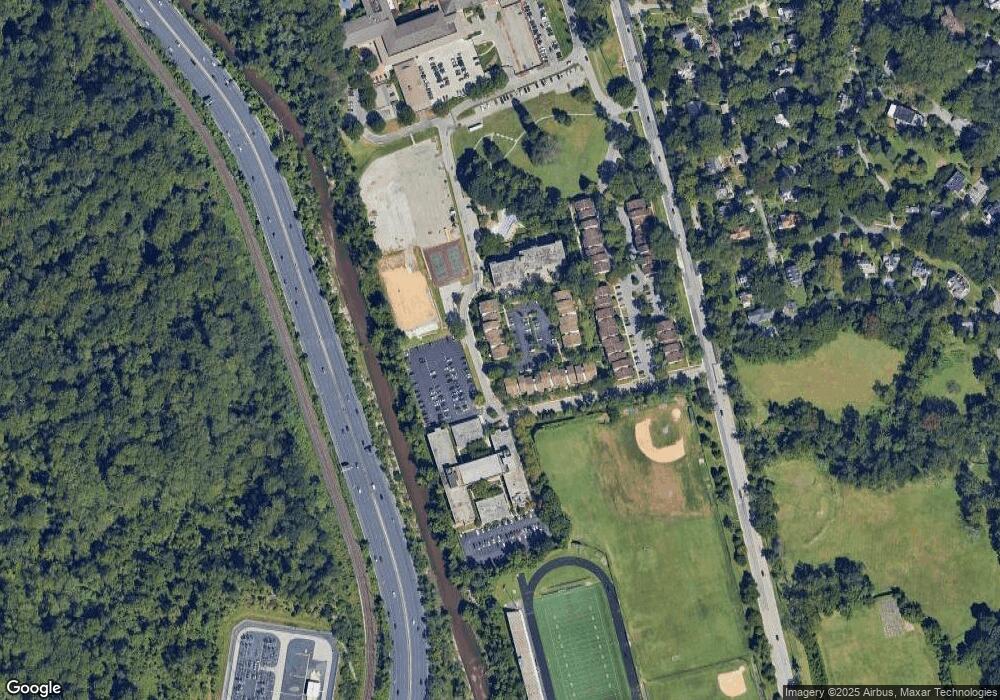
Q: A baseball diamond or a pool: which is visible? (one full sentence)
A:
Visible in the photo is a baseball diamond.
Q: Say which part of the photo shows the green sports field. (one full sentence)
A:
The green sports field is located in the bottom region of the scene.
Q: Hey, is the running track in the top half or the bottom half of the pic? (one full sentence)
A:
The bottom half of the photo is where the running track is.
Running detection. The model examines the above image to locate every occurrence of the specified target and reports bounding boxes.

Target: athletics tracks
[518,556,636,700]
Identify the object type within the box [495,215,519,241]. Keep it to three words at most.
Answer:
house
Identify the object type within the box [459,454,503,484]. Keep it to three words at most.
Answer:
building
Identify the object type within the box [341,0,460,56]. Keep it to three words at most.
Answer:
building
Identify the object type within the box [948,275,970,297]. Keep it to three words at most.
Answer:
house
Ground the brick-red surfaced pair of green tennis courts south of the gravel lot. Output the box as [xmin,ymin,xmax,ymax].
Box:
[424,239,470,286]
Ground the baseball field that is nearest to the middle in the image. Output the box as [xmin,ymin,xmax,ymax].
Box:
[635,405,686,463]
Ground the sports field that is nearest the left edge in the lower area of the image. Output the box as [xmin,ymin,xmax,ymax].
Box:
[534,581,628,700]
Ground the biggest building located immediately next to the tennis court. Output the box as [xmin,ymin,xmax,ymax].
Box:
[490,240,566,289]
